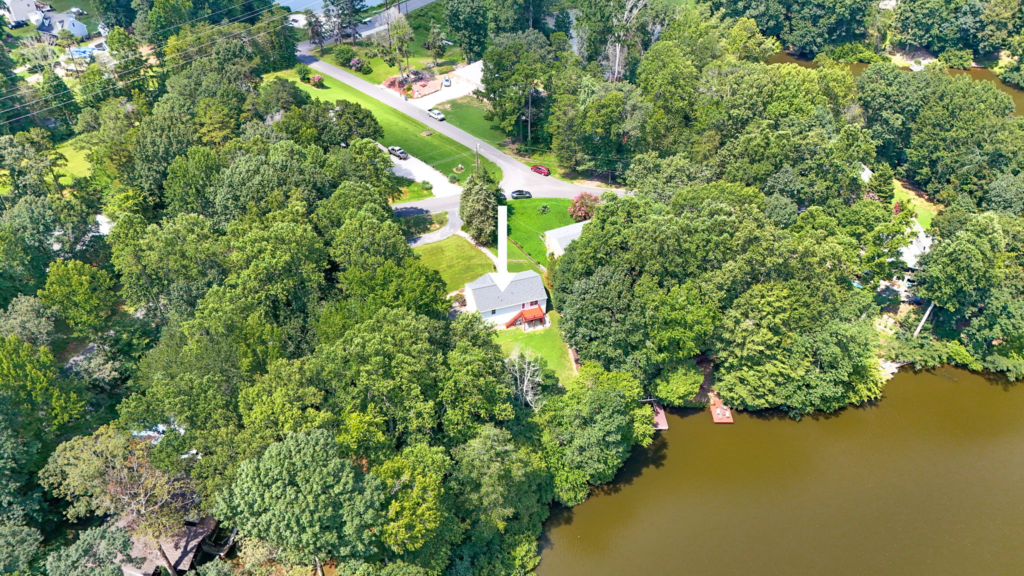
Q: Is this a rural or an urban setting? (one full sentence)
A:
It looks rural.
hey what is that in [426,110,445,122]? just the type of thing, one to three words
vehicle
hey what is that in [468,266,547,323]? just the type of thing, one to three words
house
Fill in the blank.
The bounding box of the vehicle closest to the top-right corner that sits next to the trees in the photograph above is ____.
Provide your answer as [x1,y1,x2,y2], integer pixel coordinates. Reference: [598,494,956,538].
[531,165,551,177]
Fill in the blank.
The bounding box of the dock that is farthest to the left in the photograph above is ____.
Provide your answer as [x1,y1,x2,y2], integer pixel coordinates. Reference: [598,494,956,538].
[650,403,668,431]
